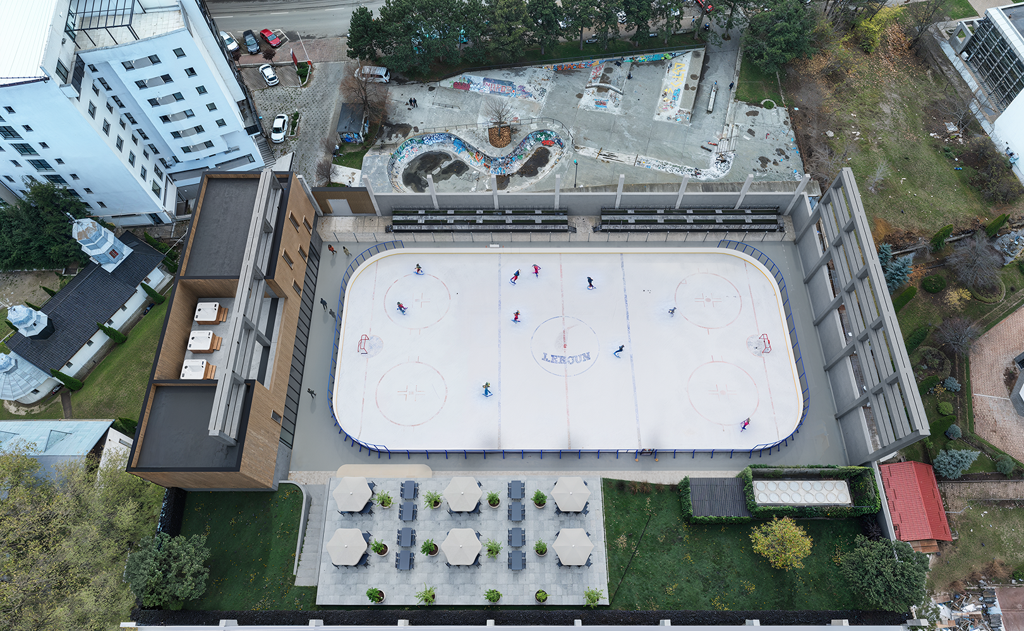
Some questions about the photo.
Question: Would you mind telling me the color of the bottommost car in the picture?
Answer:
white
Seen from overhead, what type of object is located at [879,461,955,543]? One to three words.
shed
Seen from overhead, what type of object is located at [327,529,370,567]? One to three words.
umbrella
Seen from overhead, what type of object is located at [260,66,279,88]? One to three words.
car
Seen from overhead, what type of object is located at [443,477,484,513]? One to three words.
umbrella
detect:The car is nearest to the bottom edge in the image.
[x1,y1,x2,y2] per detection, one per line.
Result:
[270,116,290,142]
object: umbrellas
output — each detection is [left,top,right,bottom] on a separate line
[443,477,484,513]
[332,478,374,513]
[551,528,594,567]
[327,529,370,567]
[440,529,483,567]
[550,477,591,513]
